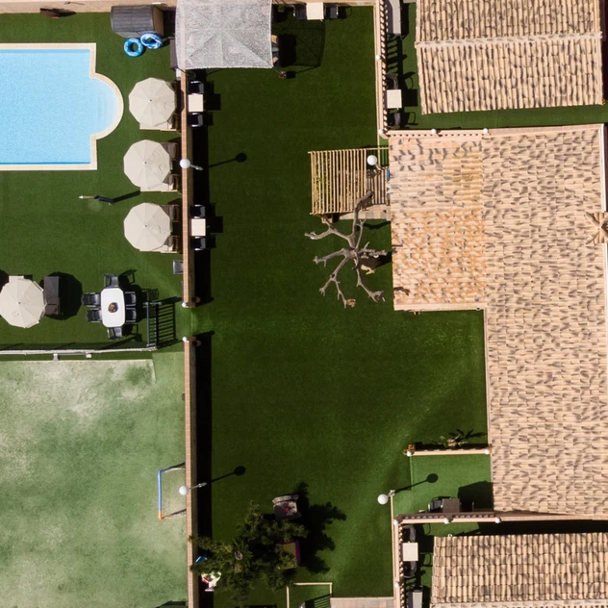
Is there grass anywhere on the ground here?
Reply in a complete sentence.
Yes, the picture does contain grass.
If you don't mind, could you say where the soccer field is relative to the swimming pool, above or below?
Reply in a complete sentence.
Looking at the scene, the soccer field is located below the swimming pool.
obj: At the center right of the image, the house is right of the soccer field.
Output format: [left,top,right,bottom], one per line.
[388,123,608,520]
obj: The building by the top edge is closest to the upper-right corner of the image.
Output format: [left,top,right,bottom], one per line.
[414,0,607,114]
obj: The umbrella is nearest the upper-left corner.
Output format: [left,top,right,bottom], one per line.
[130,80,178,126]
